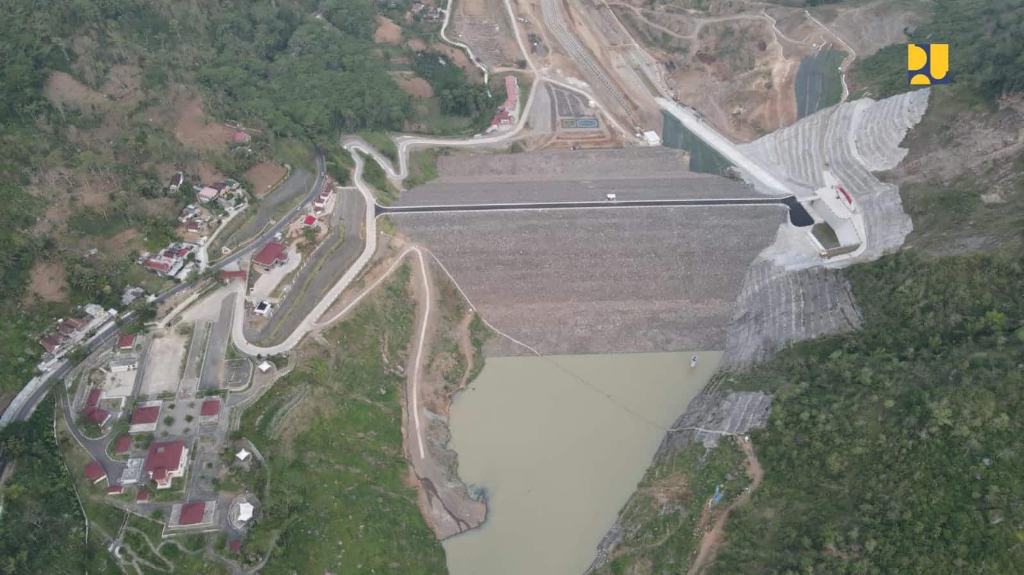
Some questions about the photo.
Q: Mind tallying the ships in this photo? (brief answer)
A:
0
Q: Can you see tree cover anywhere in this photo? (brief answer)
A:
Yes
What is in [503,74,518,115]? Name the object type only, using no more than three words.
house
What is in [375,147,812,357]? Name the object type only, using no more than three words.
dam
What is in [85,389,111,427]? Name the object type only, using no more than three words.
building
